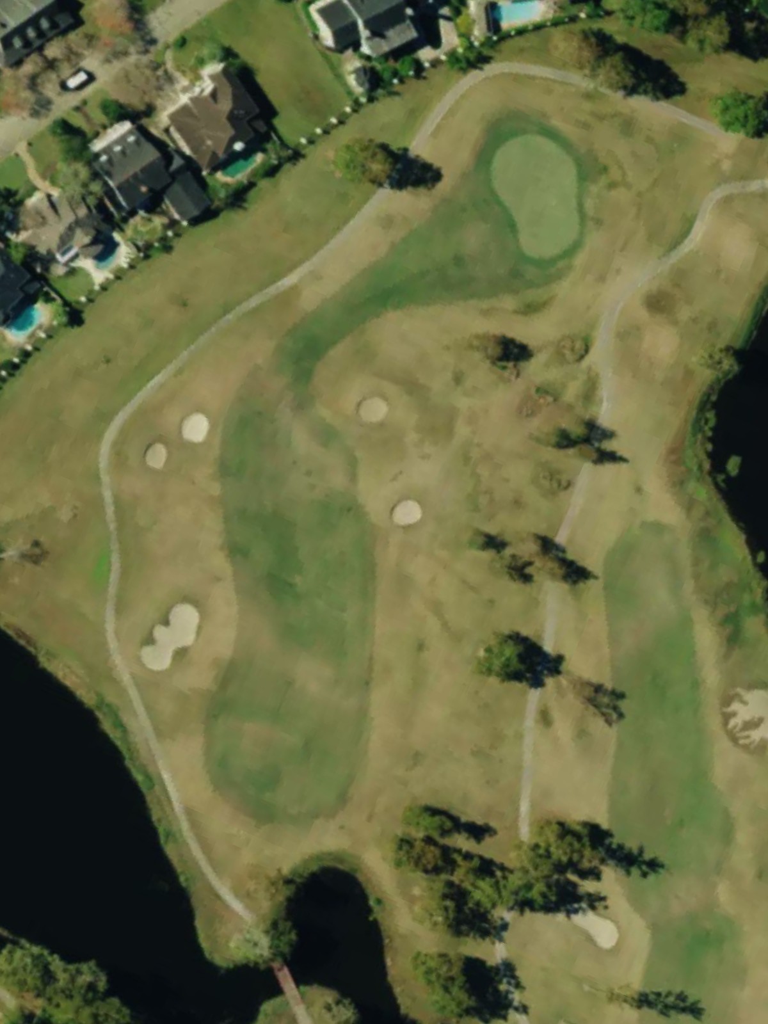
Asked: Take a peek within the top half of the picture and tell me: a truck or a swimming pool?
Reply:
swimming pool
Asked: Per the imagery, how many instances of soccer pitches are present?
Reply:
0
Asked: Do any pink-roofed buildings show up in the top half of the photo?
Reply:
No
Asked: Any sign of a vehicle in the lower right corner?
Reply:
No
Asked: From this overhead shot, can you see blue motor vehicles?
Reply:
No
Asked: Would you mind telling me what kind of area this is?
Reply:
golf course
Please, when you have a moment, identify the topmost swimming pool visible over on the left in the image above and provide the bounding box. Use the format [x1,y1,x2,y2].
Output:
[218,151,261,180]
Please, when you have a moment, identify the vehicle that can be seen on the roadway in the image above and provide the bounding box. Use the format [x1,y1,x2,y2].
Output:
[61,67,90,91]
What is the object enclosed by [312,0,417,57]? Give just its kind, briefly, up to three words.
house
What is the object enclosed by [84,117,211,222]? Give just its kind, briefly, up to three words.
house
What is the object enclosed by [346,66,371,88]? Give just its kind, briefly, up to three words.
building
